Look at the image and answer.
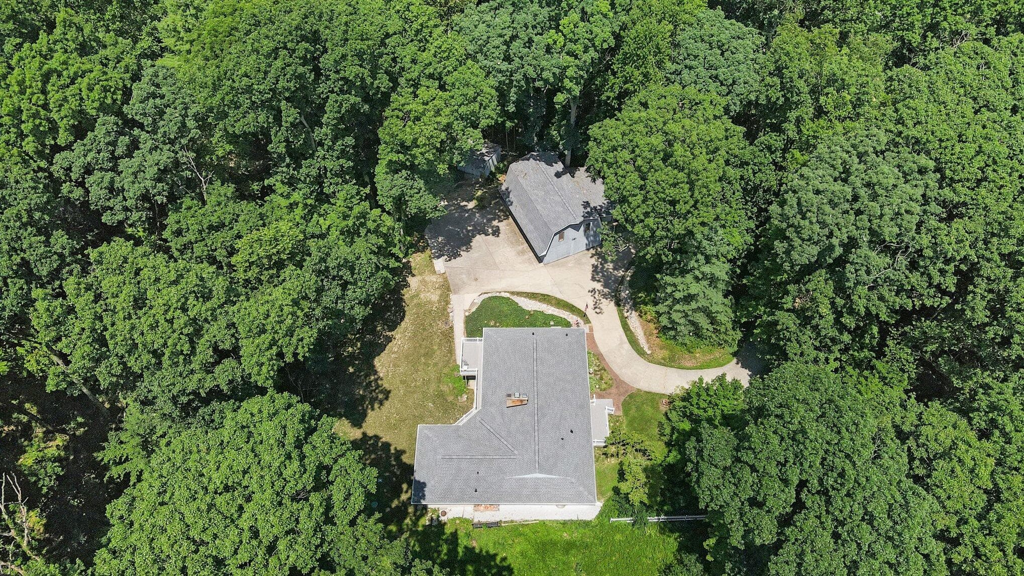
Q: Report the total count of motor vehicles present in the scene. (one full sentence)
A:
There are no motor vehicles in this view.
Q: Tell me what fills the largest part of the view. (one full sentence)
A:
The bulk of the photo consists of trees.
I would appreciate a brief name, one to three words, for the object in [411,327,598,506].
house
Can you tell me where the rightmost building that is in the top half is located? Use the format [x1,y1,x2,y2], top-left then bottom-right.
[498,152,631,264]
